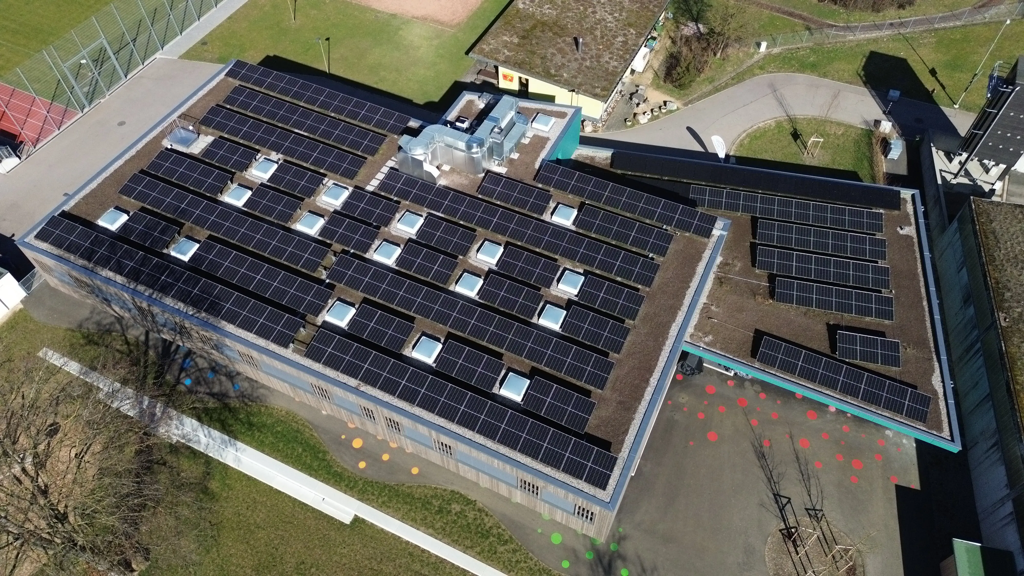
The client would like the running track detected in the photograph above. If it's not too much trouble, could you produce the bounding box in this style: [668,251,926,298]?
[0,83,83,178]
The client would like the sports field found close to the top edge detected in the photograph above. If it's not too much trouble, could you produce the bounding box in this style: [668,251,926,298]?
[0,0,223,112]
